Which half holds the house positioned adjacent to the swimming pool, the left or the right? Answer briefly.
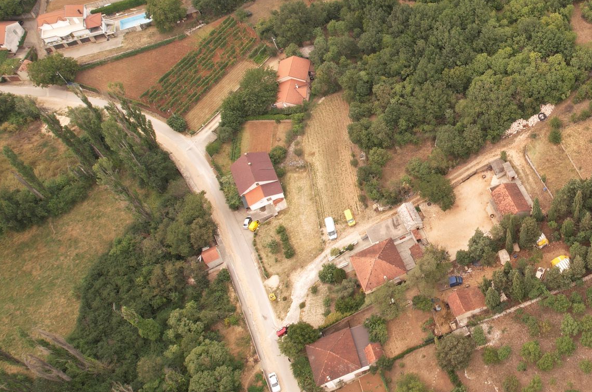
left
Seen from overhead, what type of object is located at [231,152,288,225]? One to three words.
house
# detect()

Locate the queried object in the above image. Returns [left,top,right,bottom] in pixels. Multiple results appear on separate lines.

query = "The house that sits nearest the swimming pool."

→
[37,5,112,53]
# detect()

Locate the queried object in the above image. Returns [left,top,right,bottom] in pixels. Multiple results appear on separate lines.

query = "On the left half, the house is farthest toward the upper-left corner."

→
[0,23,30,60]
